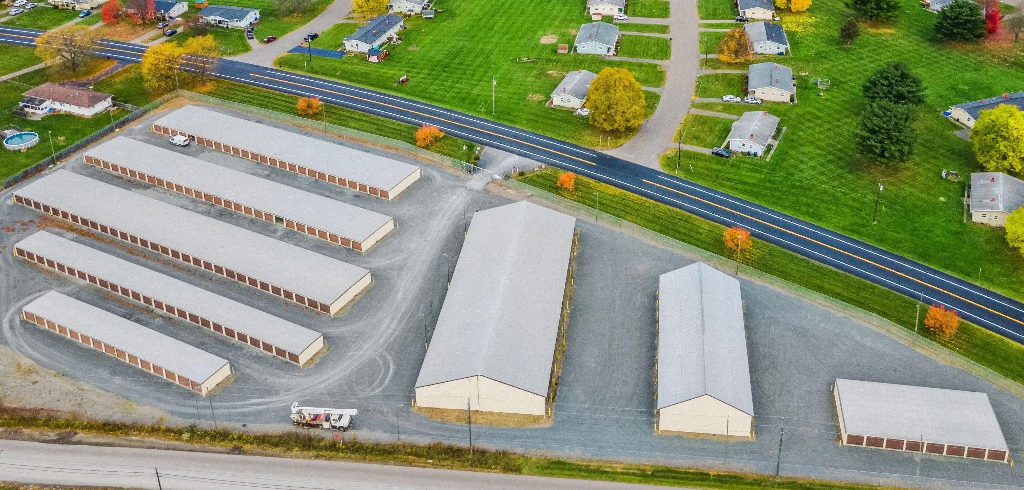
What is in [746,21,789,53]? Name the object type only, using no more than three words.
house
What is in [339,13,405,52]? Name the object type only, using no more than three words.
house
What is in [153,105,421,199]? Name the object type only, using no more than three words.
building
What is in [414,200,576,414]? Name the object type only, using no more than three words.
building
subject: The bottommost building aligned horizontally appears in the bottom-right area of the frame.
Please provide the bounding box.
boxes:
[835,379,1009,462]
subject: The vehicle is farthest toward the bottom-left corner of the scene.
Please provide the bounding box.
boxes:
[291,400,355,431]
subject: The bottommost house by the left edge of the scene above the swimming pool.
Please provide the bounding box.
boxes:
[12,82,115,116]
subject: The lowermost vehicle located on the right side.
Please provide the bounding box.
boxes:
[711,146,732,158]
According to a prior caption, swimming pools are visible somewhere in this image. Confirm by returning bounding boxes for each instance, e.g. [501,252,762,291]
[1,131,41,151]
